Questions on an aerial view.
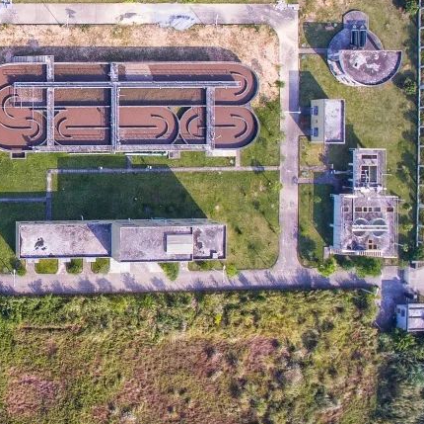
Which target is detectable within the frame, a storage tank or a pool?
storage tank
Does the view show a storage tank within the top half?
Yes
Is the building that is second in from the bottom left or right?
left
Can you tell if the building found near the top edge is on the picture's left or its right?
right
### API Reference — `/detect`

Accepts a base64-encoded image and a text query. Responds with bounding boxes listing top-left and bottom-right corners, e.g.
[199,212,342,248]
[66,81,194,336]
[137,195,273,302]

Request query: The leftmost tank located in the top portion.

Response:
[0,55,259,158]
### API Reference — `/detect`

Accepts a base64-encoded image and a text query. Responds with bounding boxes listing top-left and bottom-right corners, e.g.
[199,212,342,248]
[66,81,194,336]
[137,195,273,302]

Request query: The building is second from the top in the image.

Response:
[310,100,345,144]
